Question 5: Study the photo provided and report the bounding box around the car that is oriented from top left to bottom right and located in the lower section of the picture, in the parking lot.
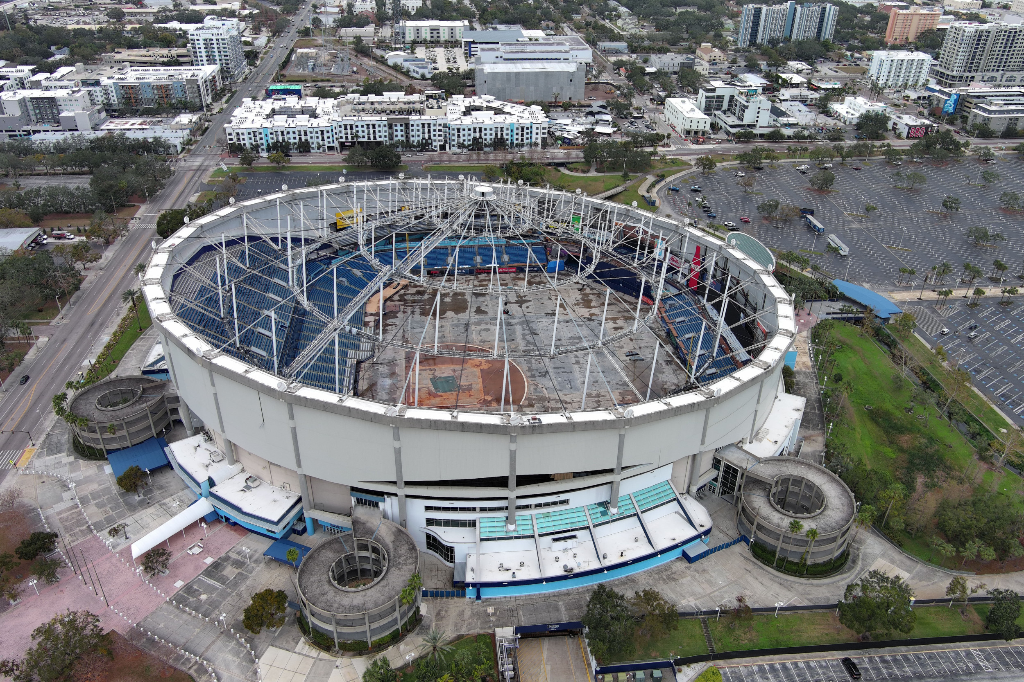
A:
[842,661,862,682]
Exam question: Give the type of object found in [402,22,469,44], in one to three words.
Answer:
building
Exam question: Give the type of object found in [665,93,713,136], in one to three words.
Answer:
building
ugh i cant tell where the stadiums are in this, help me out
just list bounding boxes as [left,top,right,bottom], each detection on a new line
[138,172,799,539]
